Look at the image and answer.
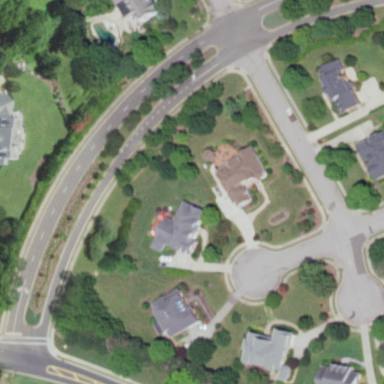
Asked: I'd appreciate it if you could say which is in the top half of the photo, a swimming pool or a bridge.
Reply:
swimming pool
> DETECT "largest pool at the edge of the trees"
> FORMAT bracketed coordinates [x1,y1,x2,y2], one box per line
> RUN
[92,22,120,50]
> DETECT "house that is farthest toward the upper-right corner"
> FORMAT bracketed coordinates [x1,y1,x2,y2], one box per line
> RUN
[316,58,358,114]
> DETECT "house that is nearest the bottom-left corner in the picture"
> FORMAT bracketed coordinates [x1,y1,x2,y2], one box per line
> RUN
[152,289,198,337]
